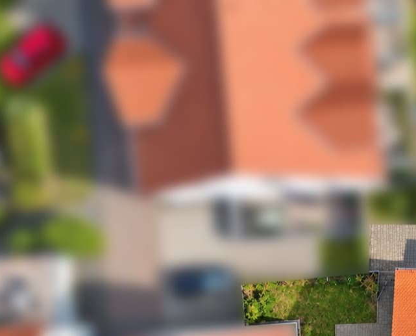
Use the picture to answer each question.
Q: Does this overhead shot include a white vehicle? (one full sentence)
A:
No, the scene contains no white vehicle.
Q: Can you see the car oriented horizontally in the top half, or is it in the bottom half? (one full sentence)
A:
The bottom half of the photo is where the car oriented horizontally is.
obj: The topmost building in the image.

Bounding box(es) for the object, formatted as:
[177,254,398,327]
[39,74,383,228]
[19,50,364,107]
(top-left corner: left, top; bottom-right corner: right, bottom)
[101,0,388,200]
